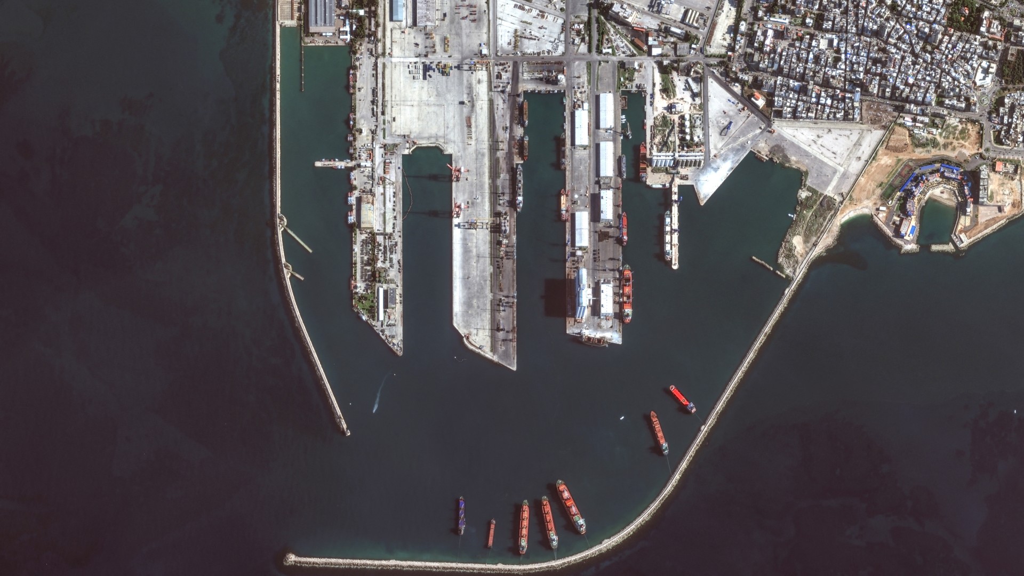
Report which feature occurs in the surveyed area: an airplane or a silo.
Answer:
silo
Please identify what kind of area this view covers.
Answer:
port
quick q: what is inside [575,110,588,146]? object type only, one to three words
building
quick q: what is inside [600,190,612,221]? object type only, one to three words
building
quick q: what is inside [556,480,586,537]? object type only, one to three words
ship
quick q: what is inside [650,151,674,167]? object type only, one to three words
silo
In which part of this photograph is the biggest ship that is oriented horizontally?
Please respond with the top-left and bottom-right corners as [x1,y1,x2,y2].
[579,334,609,347]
